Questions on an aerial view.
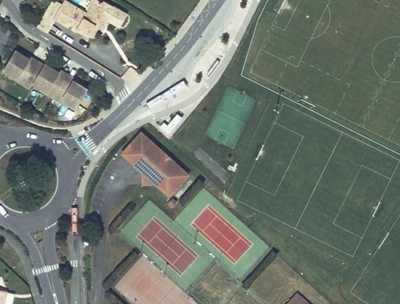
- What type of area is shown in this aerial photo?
sports ground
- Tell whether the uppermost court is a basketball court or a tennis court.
basketball court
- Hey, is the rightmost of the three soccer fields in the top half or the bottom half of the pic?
bottom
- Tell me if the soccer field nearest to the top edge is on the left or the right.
right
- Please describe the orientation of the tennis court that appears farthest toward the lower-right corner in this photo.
diagonally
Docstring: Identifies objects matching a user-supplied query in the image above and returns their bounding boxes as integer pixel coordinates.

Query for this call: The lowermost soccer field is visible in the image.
[351,211,400,304]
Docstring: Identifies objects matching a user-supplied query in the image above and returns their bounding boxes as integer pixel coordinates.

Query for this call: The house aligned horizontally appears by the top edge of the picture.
[37,0,130,39]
